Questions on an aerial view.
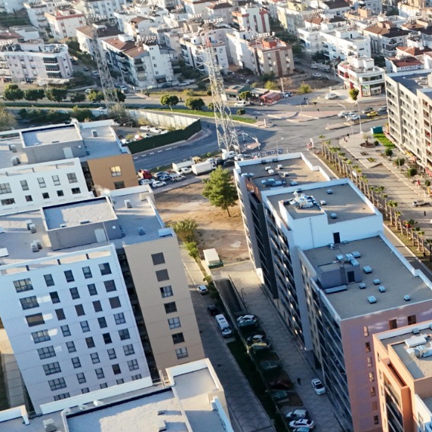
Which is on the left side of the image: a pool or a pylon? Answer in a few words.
pylon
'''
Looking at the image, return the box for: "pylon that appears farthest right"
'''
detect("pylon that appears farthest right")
[208,30,251,156]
